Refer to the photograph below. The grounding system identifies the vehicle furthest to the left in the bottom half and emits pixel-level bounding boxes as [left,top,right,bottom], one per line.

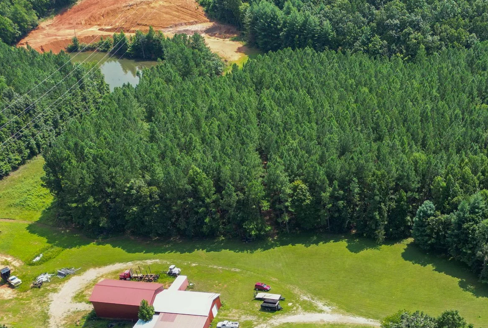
[0,268,21,288]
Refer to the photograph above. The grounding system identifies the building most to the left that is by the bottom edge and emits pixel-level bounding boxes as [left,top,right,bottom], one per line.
[90,279,165,319]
